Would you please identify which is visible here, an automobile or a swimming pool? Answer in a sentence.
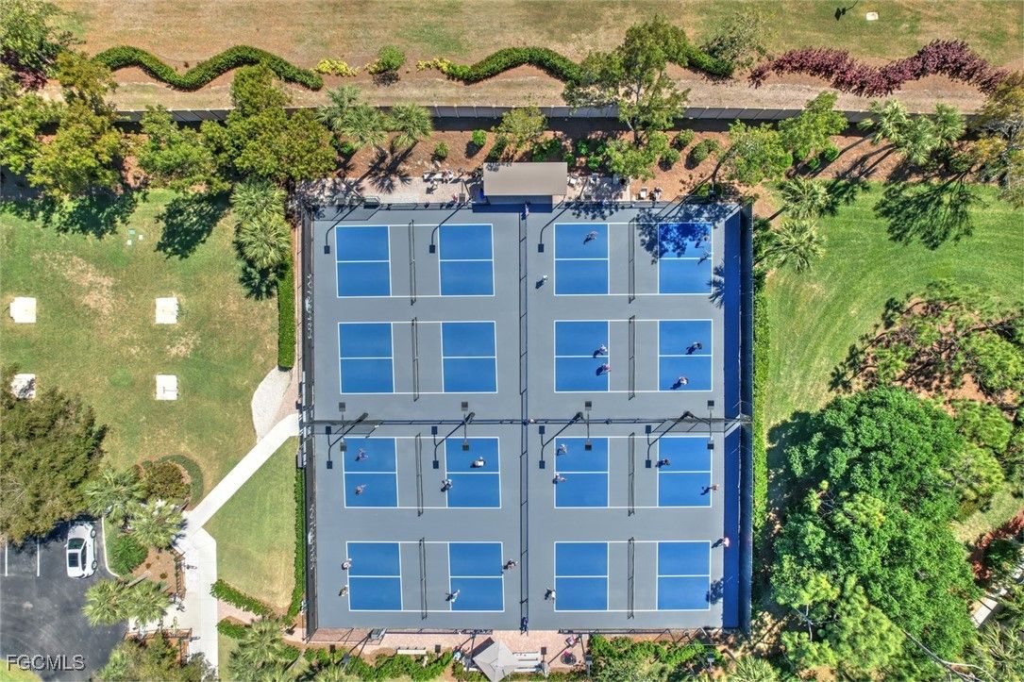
Of the two, only an automobile appears.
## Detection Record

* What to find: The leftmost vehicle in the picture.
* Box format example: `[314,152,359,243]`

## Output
[65,523,95,579]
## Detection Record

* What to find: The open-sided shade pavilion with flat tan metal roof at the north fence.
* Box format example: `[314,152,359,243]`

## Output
[483,161,569,200]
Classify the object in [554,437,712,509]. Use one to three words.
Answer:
sports court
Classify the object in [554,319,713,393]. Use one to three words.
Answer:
sports court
